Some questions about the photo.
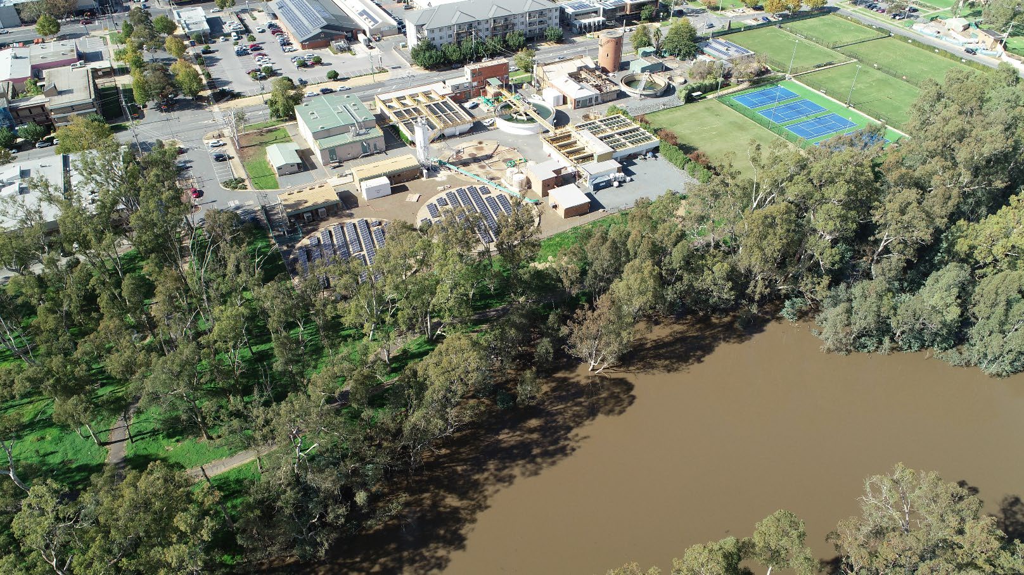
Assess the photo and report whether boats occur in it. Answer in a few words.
No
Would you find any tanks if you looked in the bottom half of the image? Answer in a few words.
No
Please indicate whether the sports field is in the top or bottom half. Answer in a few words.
top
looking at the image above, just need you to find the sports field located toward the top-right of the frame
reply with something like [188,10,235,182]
[696,14,1024,186]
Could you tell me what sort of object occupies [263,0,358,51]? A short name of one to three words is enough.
building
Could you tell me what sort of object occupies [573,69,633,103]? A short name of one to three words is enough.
storage tank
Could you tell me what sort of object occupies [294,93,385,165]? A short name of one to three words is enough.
building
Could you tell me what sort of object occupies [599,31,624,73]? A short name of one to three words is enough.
water tower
